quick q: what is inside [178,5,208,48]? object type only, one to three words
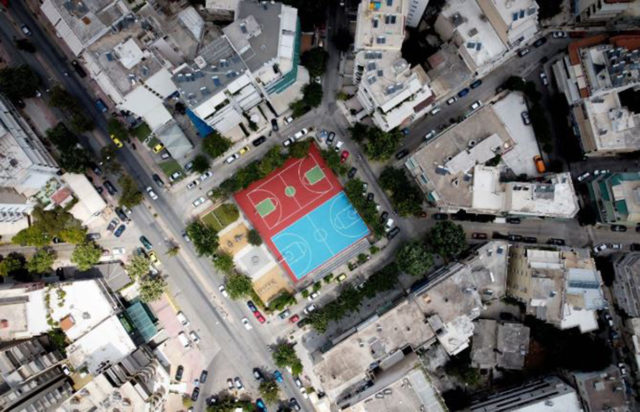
shed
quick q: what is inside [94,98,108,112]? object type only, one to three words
vehicle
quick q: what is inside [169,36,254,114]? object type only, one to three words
building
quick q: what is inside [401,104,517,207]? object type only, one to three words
building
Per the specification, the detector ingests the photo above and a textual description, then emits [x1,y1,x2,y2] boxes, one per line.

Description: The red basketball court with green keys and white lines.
[234,144,375,286]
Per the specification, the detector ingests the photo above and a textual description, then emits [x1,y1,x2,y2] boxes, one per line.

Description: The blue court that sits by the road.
[272,189,371,279]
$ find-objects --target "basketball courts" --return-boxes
[272,189,371,279]
[234,144,375,286]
